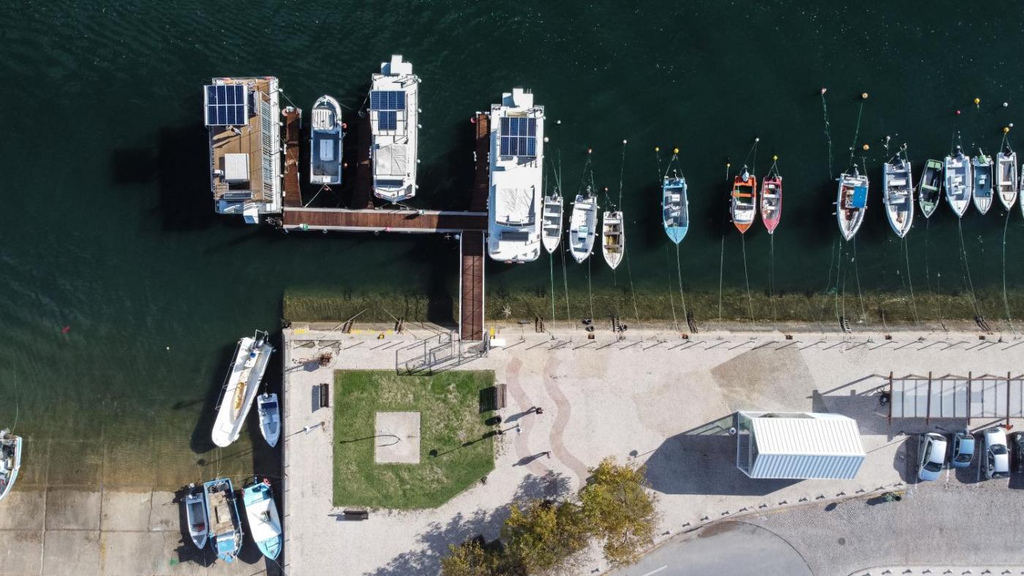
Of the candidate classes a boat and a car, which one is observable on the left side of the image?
boat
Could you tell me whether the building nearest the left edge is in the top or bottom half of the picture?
bottom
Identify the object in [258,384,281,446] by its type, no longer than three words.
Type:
boat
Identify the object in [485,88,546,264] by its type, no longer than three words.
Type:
boat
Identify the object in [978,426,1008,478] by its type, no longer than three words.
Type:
car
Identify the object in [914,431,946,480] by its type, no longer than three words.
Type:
car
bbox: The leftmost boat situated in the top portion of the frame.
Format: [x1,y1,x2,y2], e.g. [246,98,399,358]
[205,77,285,223]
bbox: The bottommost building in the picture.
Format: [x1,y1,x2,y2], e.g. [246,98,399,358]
[737,412,868,481]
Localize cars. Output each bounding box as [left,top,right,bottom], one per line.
[914,431,946,480]
[978,426,1008,478]
[949,432,976,468]
[1010,431,1024,484]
